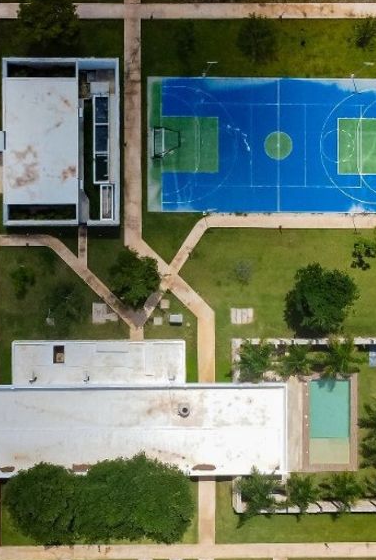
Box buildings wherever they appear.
[0,339,287,478]
[0,58,119,227]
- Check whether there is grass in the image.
Yes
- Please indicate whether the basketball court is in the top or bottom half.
top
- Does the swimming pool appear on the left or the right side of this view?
right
